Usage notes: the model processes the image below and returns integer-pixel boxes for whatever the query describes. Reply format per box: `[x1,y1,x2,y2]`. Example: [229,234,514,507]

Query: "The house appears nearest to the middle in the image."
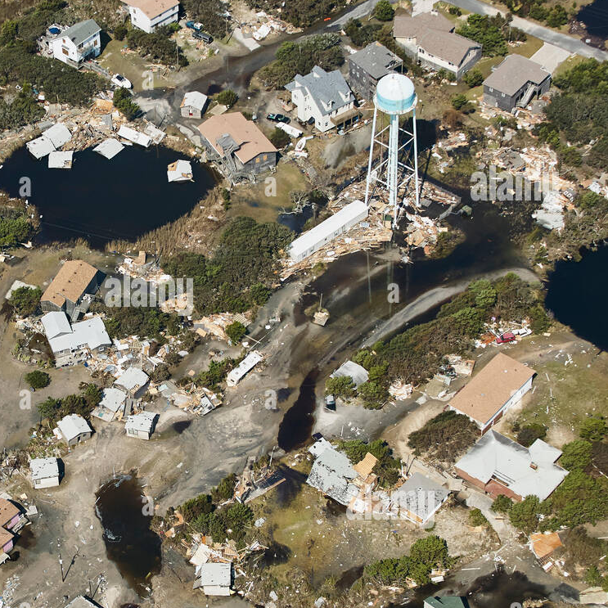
[287,201,368,265]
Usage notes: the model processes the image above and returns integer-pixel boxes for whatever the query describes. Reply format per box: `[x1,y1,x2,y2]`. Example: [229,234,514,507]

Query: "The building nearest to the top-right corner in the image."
[491,57,551,111]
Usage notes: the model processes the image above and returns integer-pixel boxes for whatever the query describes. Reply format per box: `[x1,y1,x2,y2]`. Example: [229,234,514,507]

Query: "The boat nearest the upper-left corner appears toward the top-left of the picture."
[107,71,132,85]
